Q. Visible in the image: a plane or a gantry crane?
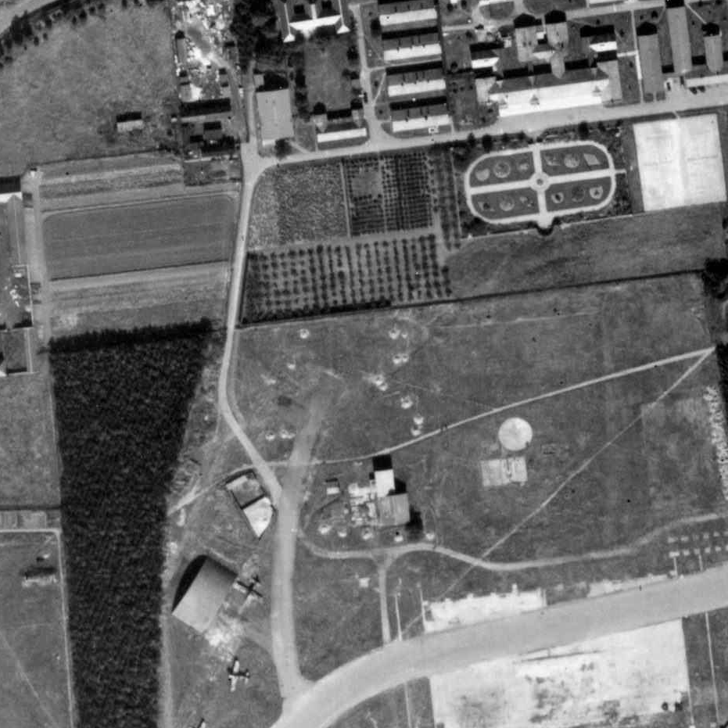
plane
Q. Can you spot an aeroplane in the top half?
No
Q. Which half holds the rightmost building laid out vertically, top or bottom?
top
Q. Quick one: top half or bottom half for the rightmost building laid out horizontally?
top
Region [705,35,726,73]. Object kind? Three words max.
building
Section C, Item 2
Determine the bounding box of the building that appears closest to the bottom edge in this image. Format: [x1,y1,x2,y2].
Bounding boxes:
[172,559,236,633]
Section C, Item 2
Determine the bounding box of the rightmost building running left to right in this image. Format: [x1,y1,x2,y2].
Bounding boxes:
[660,67,728,89]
